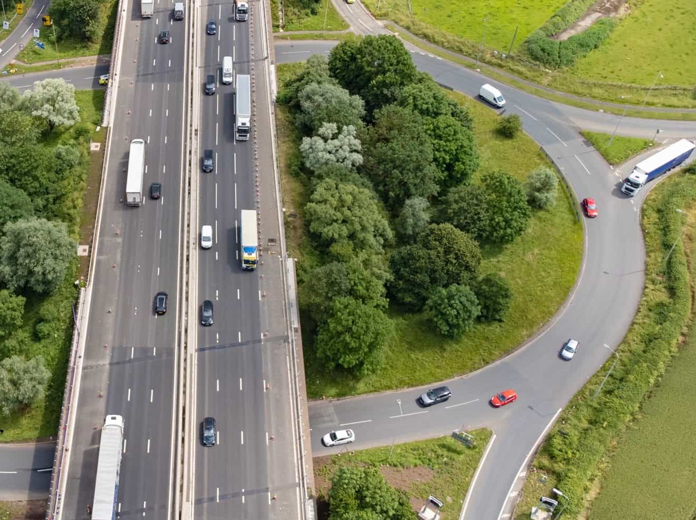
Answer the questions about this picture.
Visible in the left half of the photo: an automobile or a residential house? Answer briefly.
automobile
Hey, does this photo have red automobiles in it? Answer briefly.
Yes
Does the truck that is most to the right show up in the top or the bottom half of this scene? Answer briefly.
top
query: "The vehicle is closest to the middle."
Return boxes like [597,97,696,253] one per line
[239,209,259,270]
